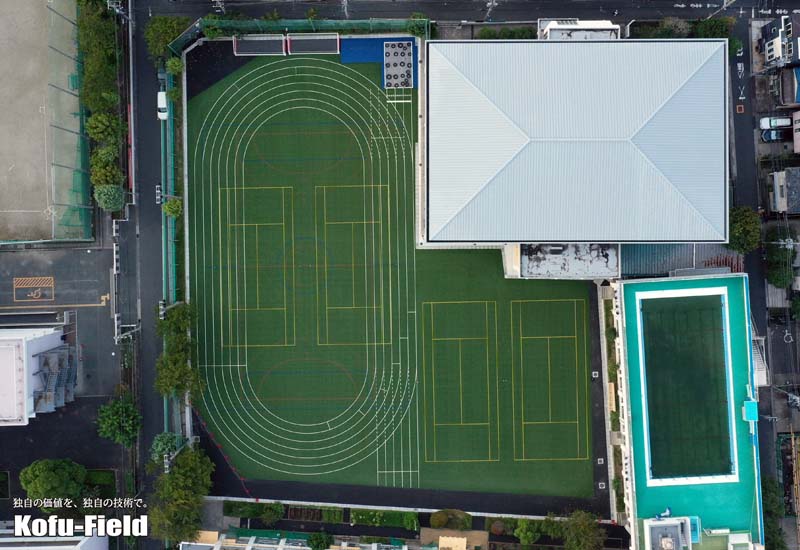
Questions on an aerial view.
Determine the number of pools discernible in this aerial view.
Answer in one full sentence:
In total, 1 pool can be seen.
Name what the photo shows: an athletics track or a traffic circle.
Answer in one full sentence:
The image shows an athletics track.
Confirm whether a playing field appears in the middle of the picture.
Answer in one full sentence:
Yes, there is a playing field in the middle of the picture.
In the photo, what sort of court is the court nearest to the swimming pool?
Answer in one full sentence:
The court nearest to the swimming pool appears to be a tennis court.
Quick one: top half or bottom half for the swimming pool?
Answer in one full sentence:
The swimming pool is in the bottom half of the image.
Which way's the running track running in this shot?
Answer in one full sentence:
What the image shows is the running track lying vertically.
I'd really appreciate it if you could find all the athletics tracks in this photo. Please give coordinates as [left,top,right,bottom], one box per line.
[195,57,419,486]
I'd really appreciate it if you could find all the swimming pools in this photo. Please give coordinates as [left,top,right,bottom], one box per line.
[634,287,740,487]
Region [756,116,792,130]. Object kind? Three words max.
vehicle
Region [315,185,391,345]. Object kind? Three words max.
tennis court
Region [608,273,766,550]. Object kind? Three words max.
building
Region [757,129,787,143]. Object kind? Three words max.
car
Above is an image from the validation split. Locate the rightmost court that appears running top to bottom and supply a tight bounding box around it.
[511,299,589,461]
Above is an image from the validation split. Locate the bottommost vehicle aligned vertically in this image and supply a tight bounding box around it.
[157,91,170,122]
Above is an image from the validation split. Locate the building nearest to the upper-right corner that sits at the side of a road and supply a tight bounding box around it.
[763,8,800,66]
